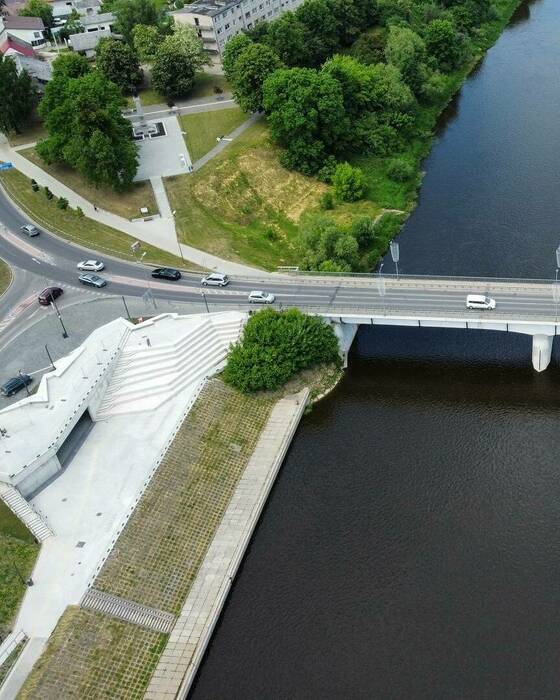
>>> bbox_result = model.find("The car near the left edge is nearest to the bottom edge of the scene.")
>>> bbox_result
[0,375,34,395]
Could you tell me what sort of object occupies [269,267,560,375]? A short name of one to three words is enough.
bridge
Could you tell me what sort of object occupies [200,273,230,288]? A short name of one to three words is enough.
car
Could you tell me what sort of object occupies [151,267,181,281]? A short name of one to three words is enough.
vehicle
